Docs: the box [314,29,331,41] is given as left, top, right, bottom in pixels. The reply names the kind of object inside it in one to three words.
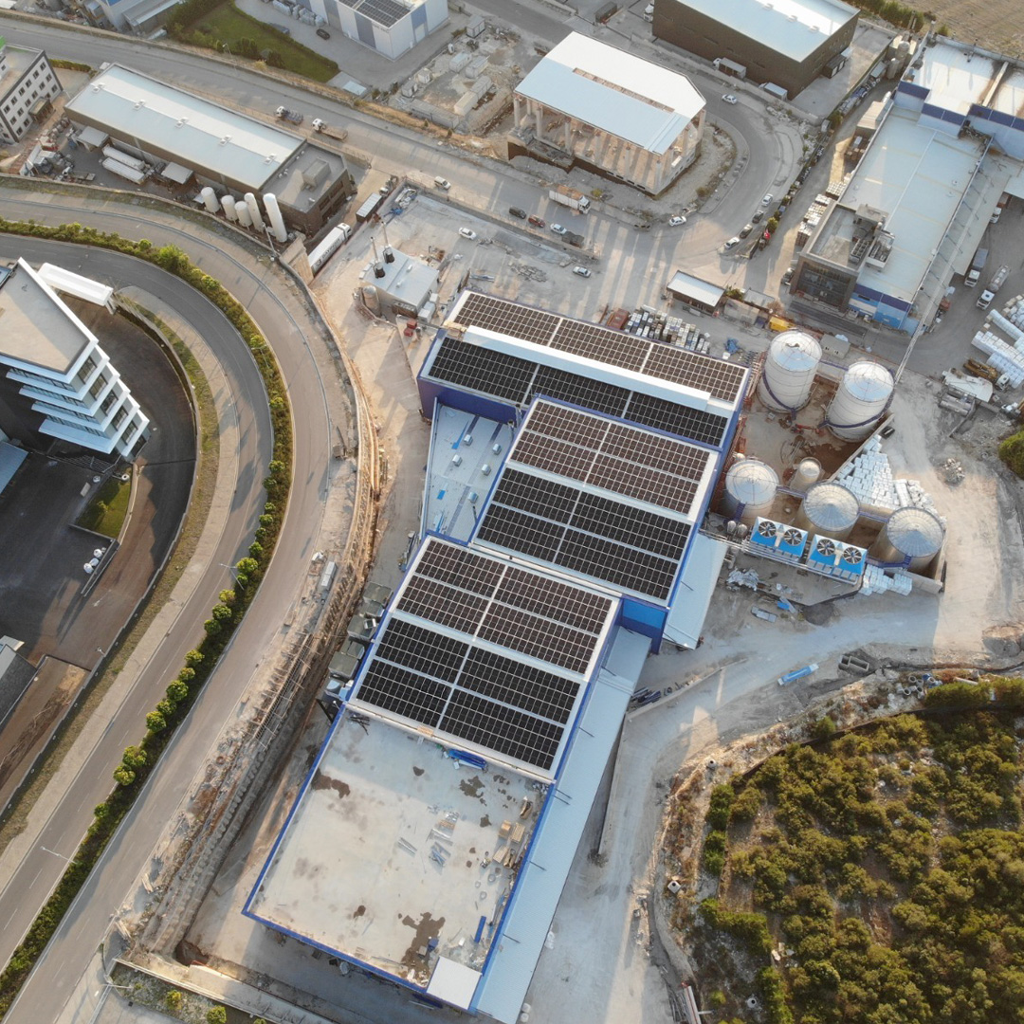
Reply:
vehicle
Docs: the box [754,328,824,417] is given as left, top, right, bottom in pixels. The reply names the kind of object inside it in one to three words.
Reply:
storage tank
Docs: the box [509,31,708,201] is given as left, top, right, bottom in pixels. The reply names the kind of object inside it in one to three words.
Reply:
building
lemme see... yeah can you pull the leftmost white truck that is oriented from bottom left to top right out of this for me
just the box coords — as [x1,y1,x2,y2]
[297,219,357,281]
